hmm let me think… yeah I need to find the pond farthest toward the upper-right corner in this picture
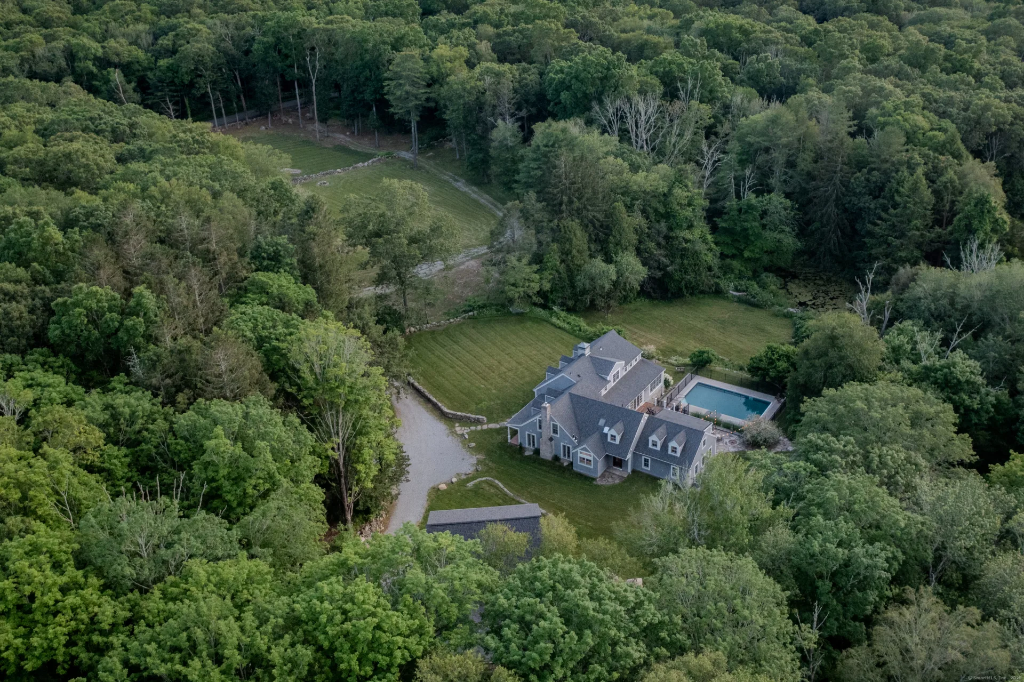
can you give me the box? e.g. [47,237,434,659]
[770,260,894,325]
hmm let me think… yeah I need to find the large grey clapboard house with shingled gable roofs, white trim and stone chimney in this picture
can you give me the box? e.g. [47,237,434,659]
[505,331,716,486]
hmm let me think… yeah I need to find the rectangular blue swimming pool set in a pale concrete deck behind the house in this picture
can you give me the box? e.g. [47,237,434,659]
[670,374,785,425]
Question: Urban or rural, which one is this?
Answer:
rural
